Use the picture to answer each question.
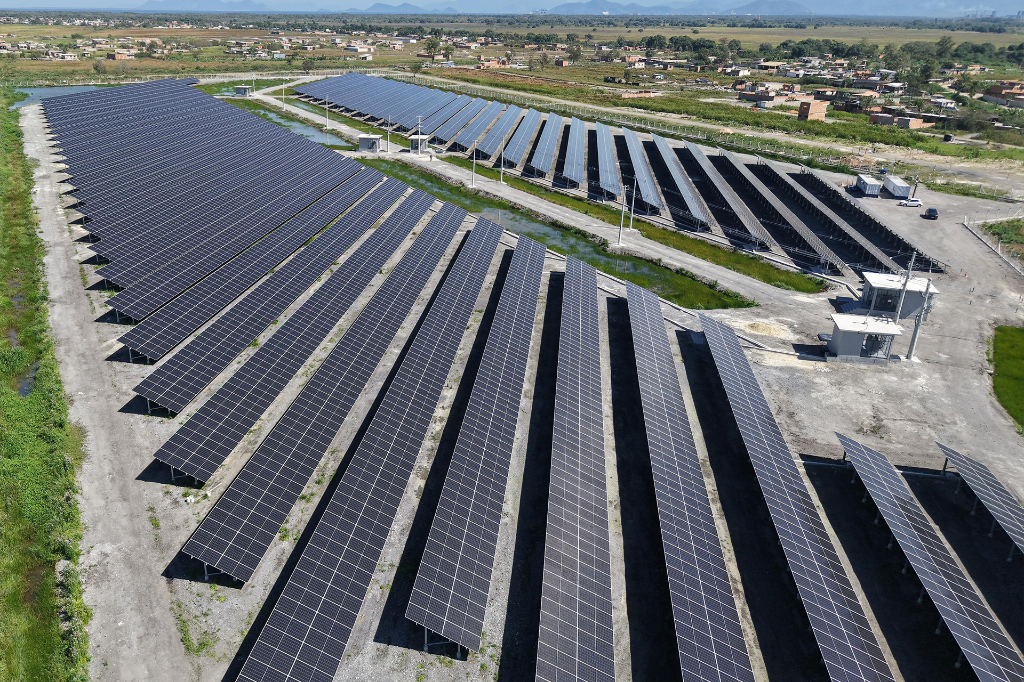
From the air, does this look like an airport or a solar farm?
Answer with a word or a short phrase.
solar farm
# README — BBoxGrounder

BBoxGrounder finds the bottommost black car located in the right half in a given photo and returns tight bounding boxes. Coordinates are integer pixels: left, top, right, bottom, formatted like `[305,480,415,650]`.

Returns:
[924,206,938,220]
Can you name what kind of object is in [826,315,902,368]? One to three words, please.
building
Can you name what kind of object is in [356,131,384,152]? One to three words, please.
building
